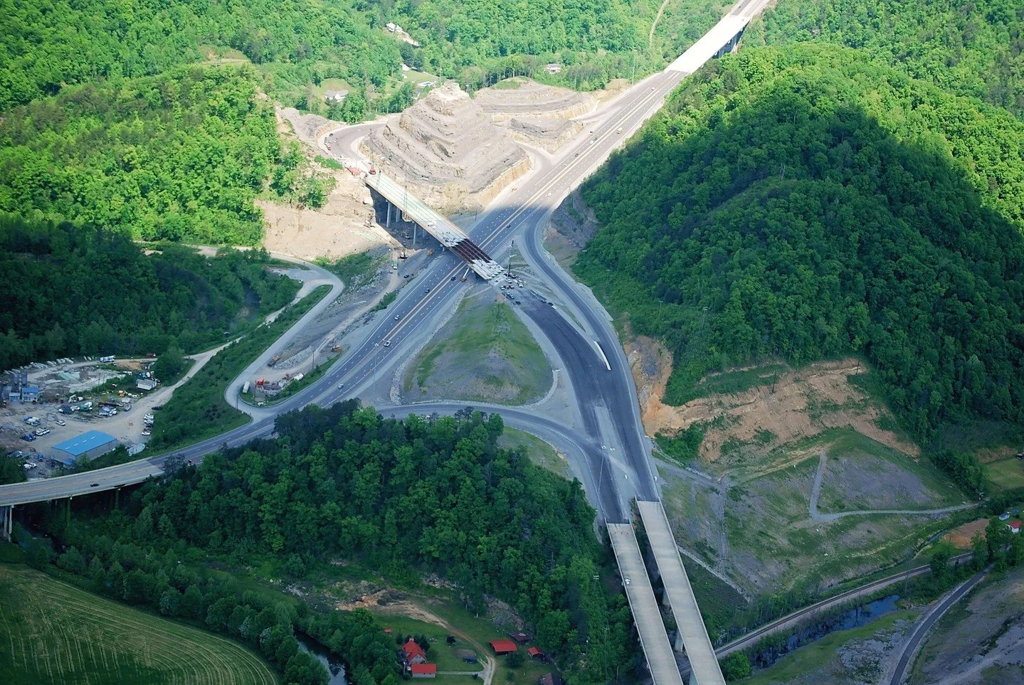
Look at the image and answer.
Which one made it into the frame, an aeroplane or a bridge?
bridge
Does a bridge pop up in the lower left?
Yes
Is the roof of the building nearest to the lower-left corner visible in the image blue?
Yes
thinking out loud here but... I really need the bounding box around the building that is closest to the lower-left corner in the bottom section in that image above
[56,427,114,464]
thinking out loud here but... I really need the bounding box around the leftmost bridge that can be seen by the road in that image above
[0,455,166,541]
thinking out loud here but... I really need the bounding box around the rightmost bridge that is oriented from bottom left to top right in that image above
[666,13,751,74]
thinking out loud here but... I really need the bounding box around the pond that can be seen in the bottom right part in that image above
[725,593,902,685]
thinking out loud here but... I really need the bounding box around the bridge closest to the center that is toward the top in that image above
[365,170,505,280]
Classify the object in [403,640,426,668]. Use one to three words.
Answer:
house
